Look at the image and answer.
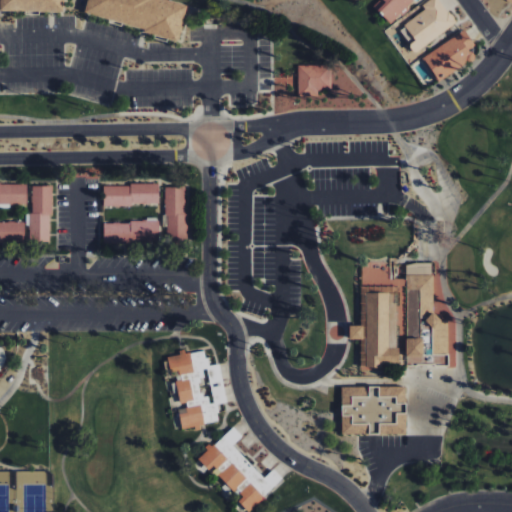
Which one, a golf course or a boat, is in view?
golf course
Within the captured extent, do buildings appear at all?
Yes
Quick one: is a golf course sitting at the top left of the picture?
No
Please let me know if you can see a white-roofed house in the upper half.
Yes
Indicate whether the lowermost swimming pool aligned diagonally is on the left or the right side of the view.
right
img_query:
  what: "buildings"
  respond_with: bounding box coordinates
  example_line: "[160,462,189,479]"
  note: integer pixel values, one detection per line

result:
[0,222,24,243]
[168,214,188,240]
[103,223,130,242]
[374,0,417,24]
[342,386,408,436]
[298,65,332,96]
[103,186,130,208]
[406,0,459,52]
[198,426,284,512]
[362,291,404,370]
[406,263,450,366]
[29,214,50,242]
[166,187,186,214]
[84,0,187,42]
[131,221,160,241]
[130,183,160,206]
[424,30,476,81]
[0,0,64,14]
[168,350,226,431]
[32,185,52,214]
[0,184,26,206]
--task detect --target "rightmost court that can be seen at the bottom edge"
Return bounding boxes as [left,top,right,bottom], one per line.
[16,471,52,512]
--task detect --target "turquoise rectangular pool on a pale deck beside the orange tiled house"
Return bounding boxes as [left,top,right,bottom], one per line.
[412,60,434,84]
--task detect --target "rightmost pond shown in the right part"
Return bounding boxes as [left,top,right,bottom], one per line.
[474,306,512,386]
